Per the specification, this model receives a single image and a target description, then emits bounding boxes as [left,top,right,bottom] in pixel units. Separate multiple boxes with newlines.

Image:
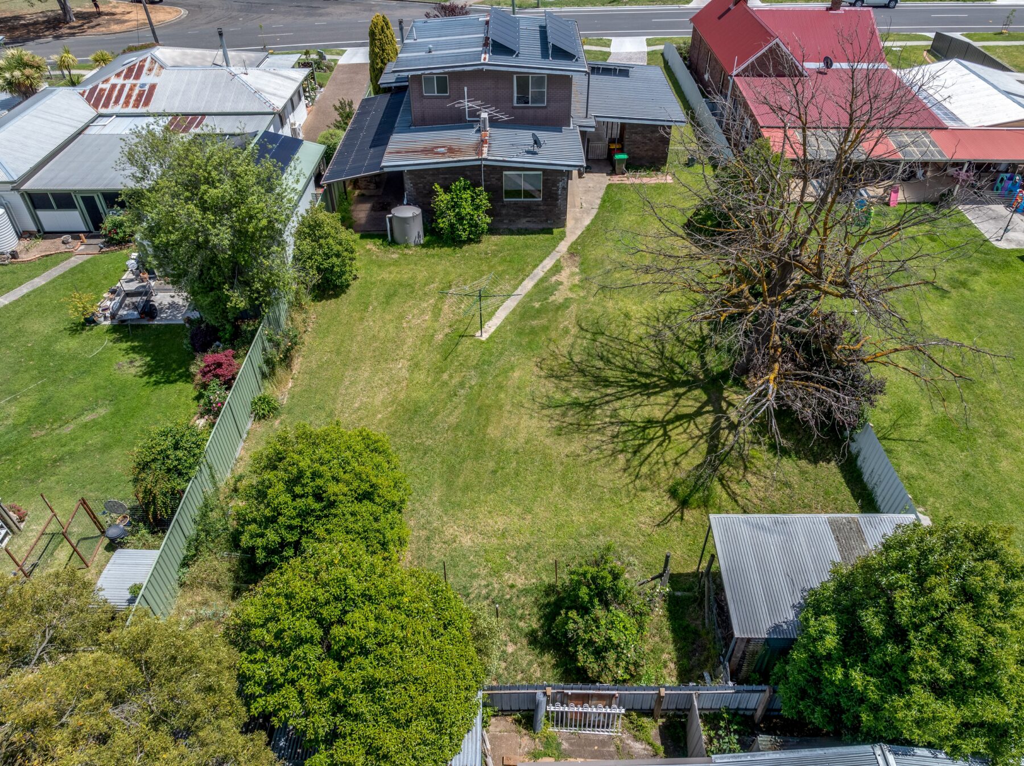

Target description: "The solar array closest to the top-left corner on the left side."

[229,131,308,202]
